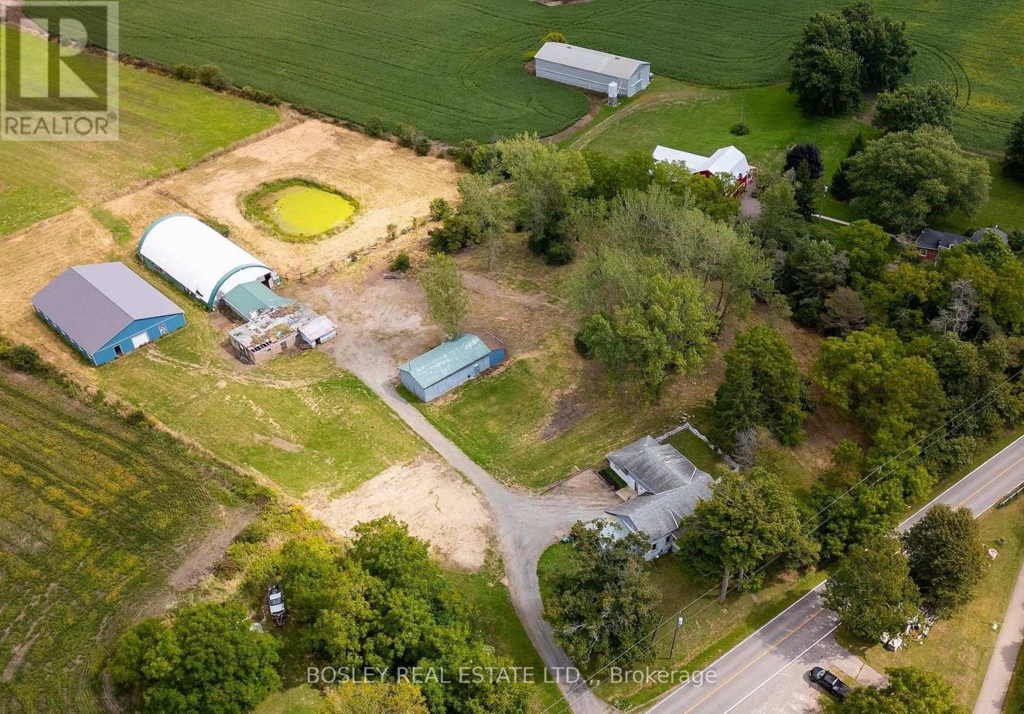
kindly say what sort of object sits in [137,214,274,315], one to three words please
barn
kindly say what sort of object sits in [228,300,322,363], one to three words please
building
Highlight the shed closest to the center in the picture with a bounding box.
[397,333,506,404]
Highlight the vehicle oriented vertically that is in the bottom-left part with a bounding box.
[268,584,285,623]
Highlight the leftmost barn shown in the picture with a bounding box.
[29,262,188,368]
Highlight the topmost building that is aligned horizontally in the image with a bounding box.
[534,42,653,98]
